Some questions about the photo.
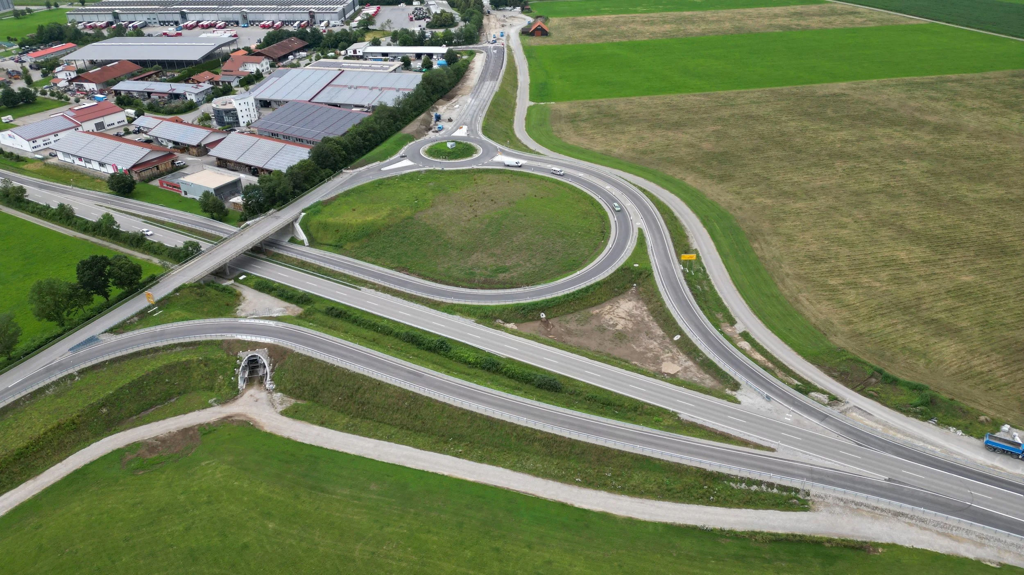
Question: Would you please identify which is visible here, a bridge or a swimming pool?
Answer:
bridge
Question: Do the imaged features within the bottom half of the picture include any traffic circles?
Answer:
No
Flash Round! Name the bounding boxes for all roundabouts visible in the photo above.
[405,136,496,167]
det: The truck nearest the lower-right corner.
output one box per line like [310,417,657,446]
[989,434,1024,460]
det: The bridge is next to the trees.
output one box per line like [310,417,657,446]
[158,201,309,286]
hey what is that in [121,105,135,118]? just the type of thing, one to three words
vehicle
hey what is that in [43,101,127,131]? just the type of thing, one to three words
building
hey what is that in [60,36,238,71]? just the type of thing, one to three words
building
